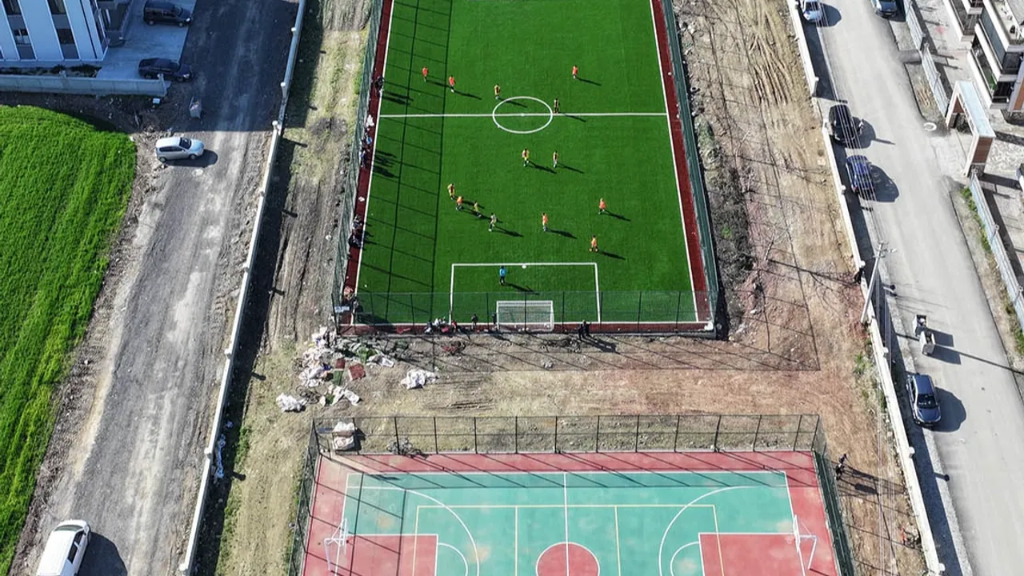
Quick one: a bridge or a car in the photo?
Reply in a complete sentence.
Looking from above, you can make out a car.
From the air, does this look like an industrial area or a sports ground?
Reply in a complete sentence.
The area seen from above is a sports ground.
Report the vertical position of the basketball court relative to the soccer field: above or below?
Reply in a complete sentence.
Relative to the soccer field, the basketball court lies below it.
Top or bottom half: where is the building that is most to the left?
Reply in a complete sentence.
The building that is most to the left sits in the top half of the picture.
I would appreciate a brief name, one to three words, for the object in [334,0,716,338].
soccer field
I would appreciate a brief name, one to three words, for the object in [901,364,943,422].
car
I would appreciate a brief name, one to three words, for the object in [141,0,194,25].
car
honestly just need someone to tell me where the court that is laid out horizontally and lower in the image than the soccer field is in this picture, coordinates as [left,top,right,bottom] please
[303,450,840,576]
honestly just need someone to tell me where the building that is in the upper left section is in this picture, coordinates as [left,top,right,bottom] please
[0,0,139,65]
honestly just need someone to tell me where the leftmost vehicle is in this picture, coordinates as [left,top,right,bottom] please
[33,519,91,576]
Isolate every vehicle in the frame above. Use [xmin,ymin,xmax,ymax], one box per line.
[33,519,91,576]
[137,53,196,79]
[874,0,899,16]
[826,98,857,139]
[154,132,205,159]
[847,160,879,196]
[797,0,822,20]
[141,0,194,25]
[901,364,943,422]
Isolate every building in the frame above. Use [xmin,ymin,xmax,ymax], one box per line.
[938,0,1024,118]
[0,0,139,65]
